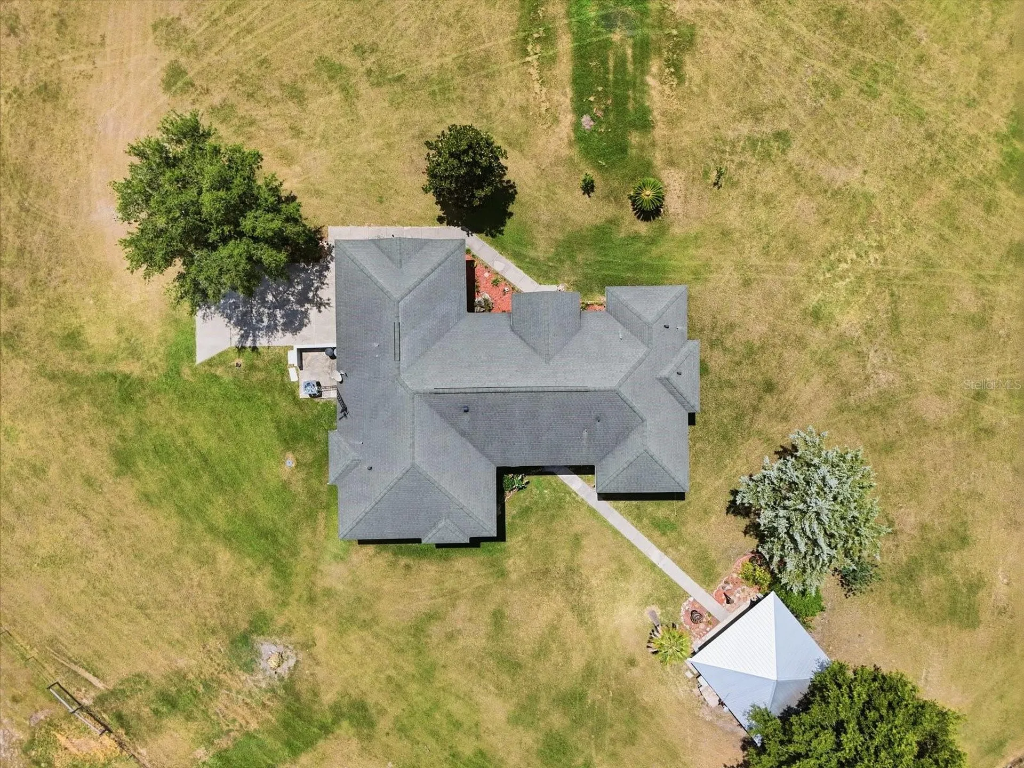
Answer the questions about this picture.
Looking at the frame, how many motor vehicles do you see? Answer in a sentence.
I count no motor vehicles.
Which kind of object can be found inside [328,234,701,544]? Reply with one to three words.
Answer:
house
